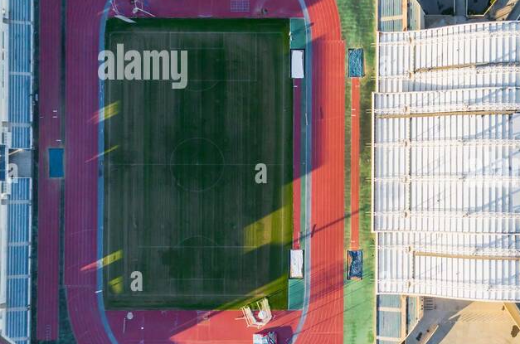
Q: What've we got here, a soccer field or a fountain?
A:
soccer field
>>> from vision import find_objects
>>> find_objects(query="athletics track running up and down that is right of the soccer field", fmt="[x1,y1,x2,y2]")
[304,42,344,344]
